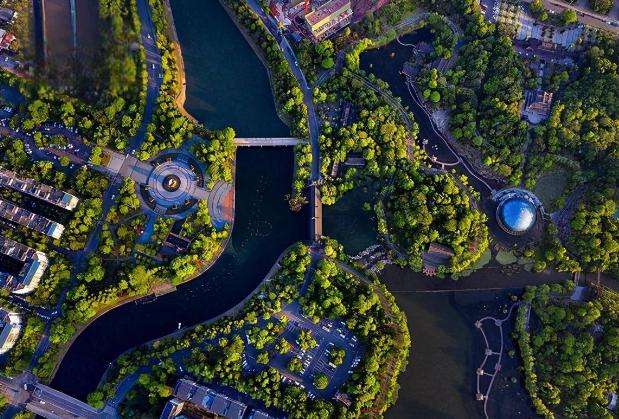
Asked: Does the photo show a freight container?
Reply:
No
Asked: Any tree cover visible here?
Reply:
Yes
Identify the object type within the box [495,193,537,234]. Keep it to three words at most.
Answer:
building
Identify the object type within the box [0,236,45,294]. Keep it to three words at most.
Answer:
building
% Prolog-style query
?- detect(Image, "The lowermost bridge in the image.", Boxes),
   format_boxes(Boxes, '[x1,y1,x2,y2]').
[20,379,109,419]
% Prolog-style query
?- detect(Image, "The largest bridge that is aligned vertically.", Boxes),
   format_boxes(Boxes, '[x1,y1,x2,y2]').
[309,184,323,247]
